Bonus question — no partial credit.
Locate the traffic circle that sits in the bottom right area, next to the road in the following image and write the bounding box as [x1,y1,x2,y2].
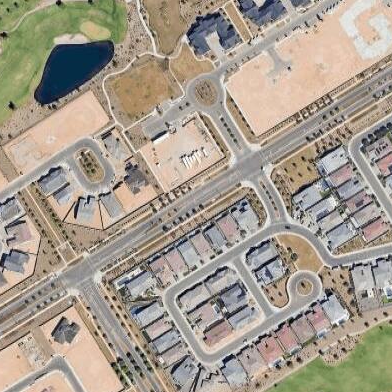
[286,271,322,306]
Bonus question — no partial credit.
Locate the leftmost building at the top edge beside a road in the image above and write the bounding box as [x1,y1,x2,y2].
[187,10,244,56]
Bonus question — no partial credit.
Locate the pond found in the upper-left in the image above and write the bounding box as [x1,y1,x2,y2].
[35,40,113,104]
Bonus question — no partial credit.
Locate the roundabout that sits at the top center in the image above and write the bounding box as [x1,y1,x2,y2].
[184,70,227,113]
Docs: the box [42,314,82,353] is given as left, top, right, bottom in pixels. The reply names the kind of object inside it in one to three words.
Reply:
house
